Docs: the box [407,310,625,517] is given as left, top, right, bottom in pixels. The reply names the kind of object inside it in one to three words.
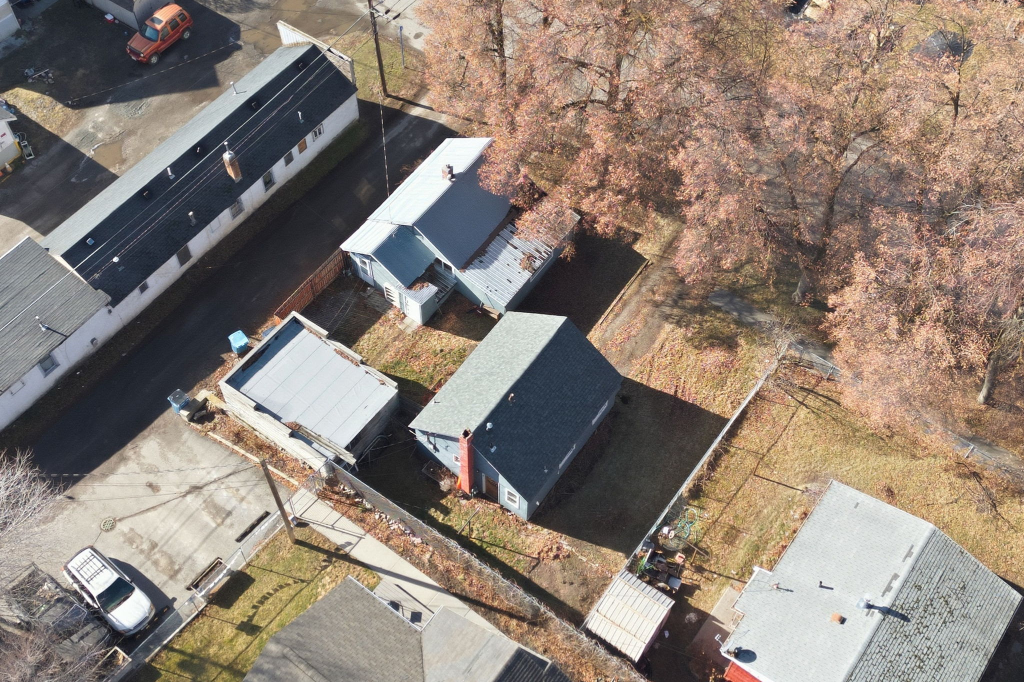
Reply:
house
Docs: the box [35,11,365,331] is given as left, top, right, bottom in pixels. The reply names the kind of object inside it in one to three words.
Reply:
building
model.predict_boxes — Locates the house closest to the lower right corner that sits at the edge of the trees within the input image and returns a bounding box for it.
[716,476,1024,682]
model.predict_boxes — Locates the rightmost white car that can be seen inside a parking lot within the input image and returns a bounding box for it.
[57,542,159,635]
